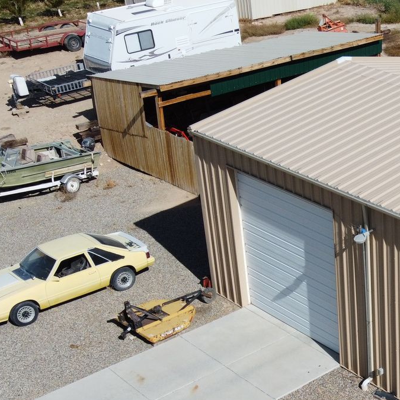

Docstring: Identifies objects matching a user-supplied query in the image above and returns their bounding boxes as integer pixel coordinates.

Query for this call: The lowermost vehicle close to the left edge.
[0,227,156,326]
